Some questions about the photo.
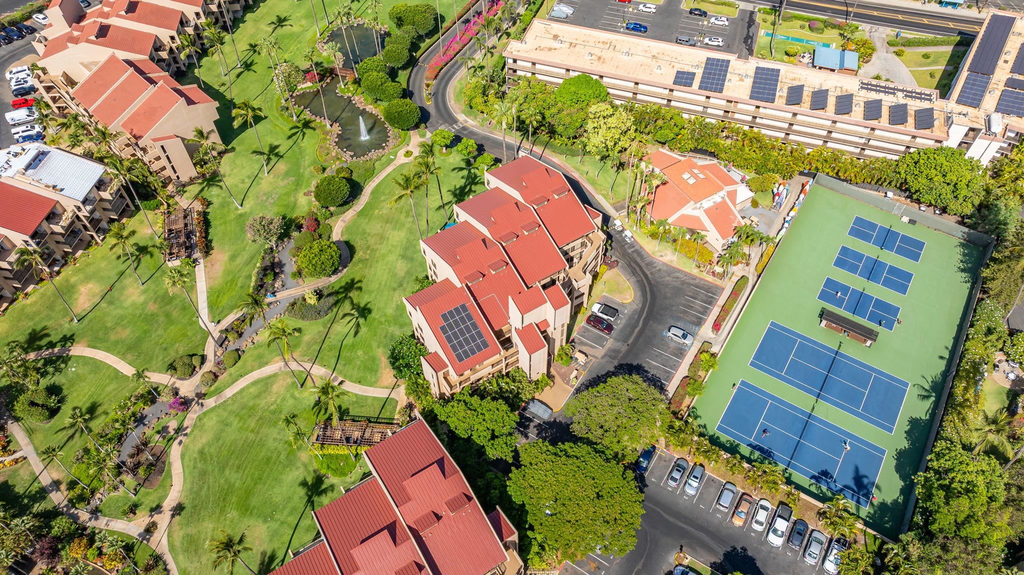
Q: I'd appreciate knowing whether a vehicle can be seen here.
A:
Yes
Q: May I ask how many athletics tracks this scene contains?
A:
0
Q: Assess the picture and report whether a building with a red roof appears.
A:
Yes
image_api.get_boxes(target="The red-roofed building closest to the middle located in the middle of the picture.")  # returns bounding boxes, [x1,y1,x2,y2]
[399,150,607,395]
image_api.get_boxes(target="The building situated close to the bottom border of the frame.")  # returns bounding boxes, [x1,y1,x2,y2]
[256,413,524,575]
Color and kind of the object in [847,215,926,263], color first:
blue sports court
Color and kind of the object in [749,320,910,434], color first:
blue tennis court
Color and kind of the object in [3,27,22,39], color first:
blue vehicle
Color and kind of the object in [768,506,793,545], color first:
white truck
